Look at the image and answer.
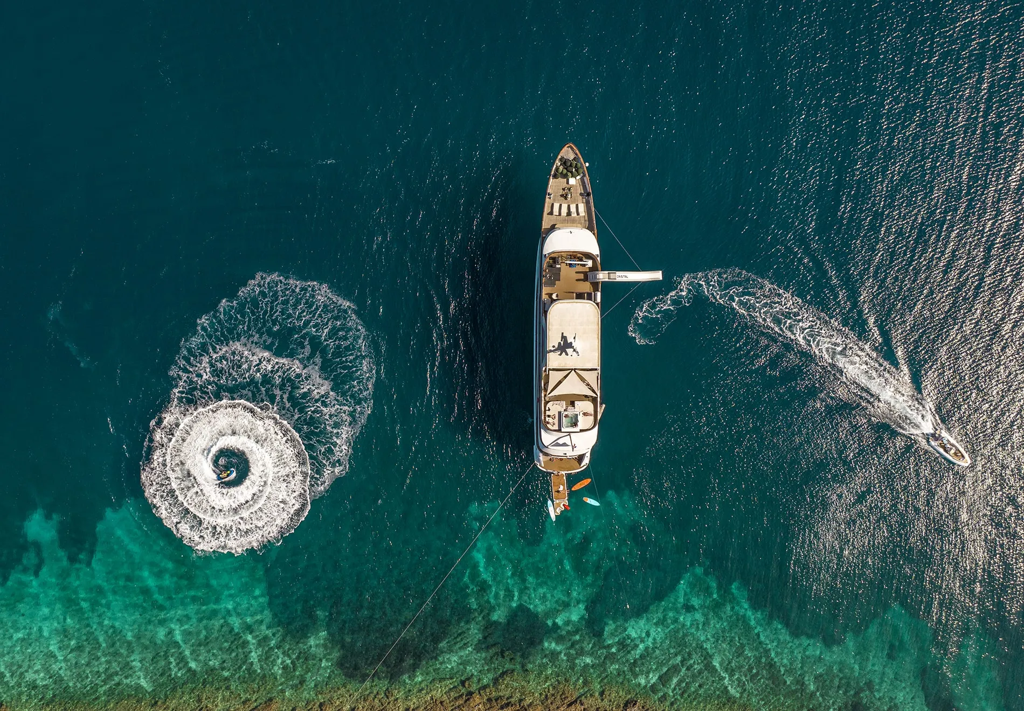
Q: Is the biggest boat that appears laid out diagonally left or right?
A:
right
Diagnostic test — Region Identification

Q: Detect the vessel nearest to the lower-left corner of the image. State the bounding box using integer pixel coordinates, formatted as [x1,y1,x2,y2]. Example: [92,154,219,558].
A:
[216,468,236,481]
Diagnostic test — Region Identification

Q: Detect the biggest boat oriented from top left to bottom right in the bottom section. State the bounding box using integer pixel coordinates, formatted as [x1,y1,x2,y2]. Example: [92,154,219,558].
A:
[924,428,969,466]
